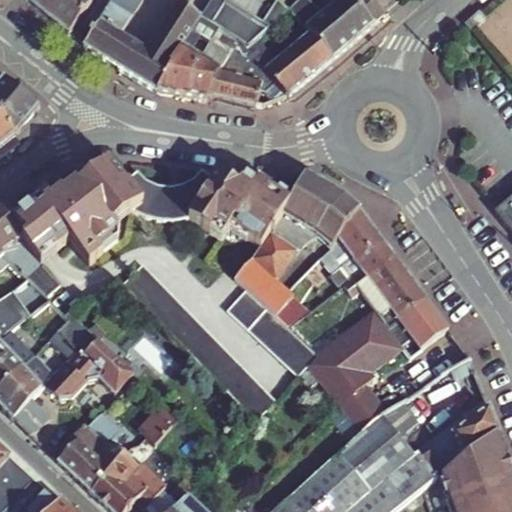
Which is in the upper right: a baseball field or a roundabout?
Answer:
roundabout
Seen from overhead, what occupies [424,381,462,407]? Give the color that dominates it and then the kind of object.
white truck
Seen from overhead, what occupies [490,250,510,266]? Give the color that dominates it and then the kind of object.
white car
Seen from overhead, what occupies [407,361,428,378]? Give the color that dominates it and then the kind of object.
white vehicle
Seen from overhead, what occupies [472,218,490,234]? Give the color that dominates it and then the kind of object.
white car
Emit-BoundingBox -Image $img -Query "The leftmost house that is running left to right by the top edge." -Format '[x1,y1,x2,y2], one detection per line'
[20,0,100,38]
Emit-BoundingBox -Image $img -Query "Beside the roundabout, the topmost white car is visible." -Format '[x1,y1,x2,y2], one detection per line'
[309,118,330,132]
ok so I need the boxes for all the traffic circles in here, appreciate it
[324,70,438,183]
